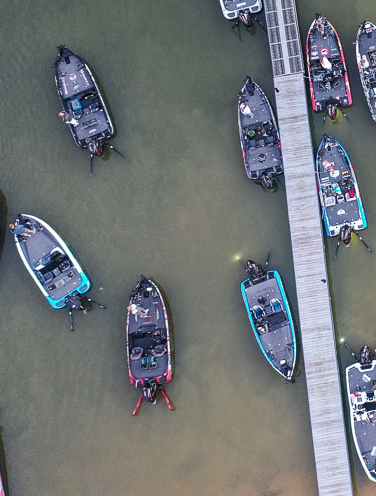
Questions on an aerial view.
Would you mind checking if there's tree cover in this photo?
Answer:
No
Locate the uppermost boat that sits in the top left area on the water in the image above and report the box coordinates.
[56,41,126,175]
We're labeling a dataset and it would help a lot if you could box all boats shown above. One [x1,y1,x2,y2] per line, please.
[236,73,286,188]
[316,129,372,259]
[221,0,263,29]
[56,41,126,175]
[12,211,106,331]
[306,11,350,123]
[237,252,298,386]
[353,16,376,117]
[128,274,174,416]
[341,339,376,483]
